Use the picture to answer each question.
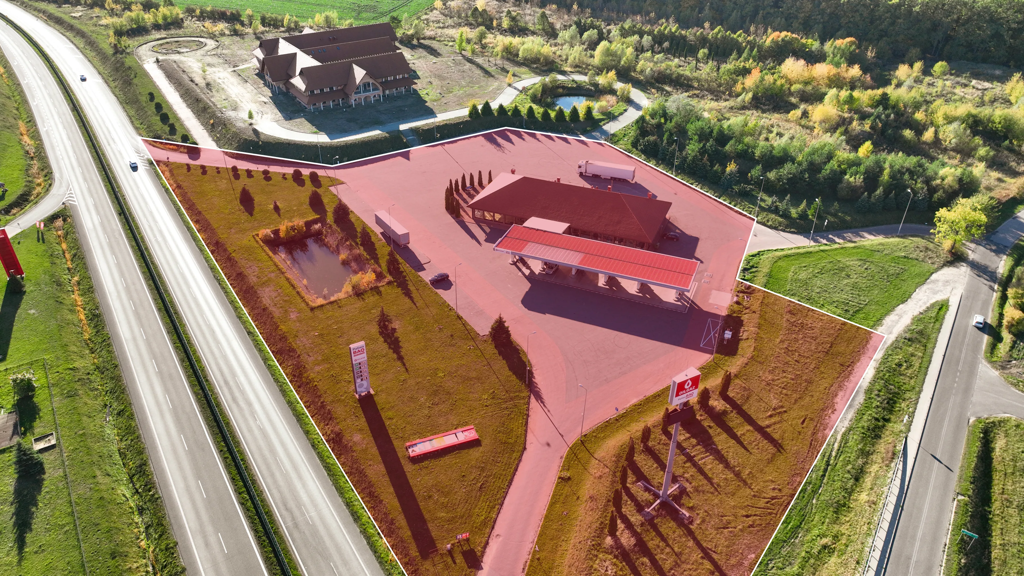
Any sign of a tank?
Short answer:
No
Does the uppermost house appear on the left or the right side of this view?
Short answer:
left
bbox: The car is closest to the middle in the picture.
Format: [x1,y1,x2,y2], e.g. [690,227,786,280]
[545,263,559,275]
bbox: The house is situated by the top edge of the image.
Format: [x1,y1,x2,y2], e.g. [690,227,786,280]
[246,21,423,112]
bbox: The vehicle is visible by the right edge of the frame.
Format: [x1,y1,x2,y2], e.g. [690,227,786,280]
[973,316,987,330]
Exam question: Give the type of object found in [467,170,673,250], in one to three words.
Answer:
building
